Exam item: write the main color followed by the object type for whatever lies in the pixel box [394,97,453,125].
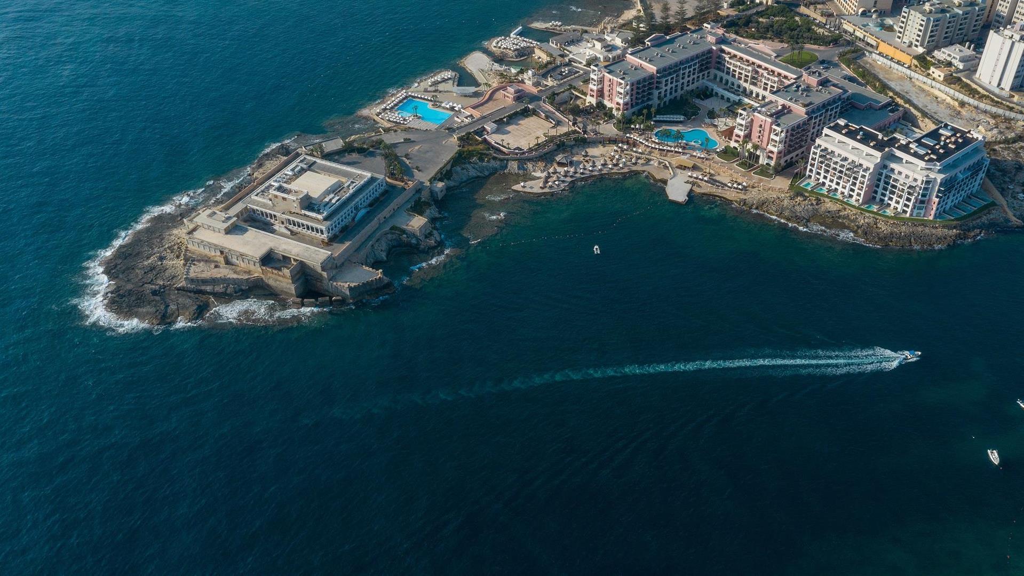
blue swimming pool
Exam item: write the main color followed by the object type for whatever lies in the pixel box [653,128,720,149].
blue swimming pool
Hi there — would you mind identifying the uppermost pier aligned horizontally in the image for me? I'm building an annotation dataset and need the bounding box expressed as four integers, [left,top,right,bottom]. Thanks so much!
[530,23,594,35]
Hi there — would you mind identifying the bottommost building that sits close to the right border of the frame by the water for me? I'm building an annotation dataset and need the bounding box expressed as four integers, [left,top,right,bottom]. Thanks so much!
[808,118,992,219]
